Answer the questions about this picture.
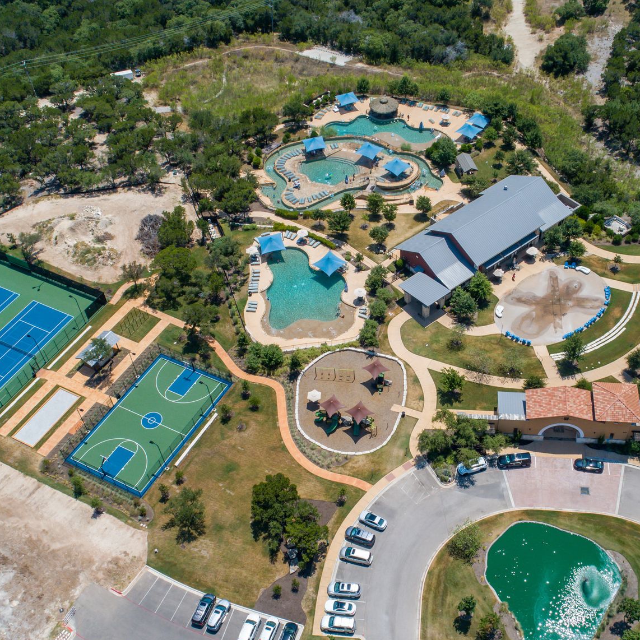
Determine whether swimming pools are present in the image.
Yes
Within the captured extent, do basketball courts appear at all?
Yes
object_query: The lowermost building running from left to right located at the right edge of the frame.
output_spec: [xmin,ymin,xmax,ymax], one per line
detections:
[490,379,640,445]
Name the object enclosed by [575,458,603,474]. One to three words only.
car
